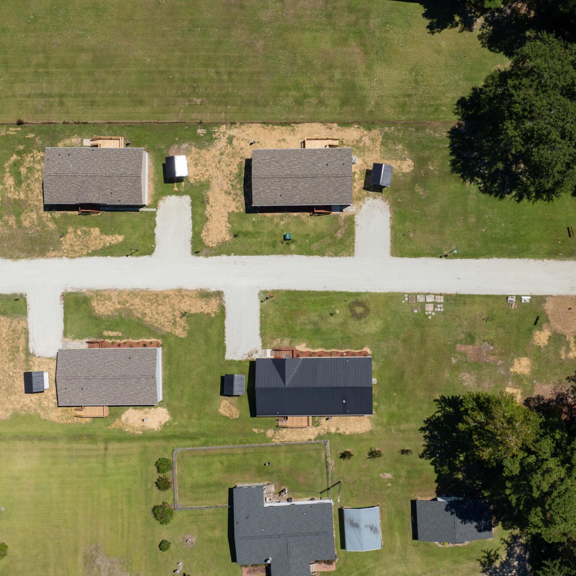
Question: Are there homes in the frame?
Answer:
Yes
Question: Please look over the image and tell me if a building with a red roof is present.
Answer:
No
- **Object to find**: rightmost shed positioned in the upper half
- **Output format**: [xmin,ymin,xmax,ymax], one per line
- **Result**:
[371,162,393,188]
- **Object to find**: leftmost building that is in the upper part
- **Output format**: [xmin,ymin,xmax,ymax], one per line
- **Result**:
[42,137,148,208]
